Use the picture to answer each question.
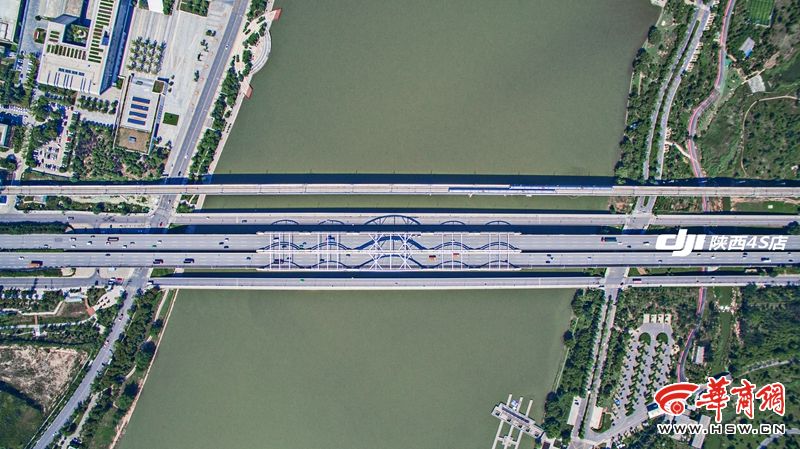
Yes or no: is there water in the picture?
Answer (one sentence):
Yes, water can be seen from above here.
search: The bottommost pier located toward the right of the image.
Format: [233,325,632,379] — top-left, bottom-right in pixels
[491,394,548,449]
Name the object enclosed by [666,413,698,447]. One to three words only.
building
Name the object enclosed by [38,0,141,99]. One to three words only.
building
